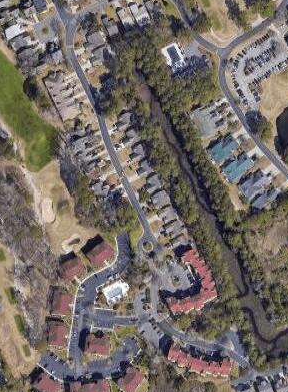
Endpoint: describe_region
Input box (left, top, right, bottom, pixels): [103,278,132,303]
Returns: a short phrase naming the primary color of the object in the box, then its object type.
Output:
white swimming pool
